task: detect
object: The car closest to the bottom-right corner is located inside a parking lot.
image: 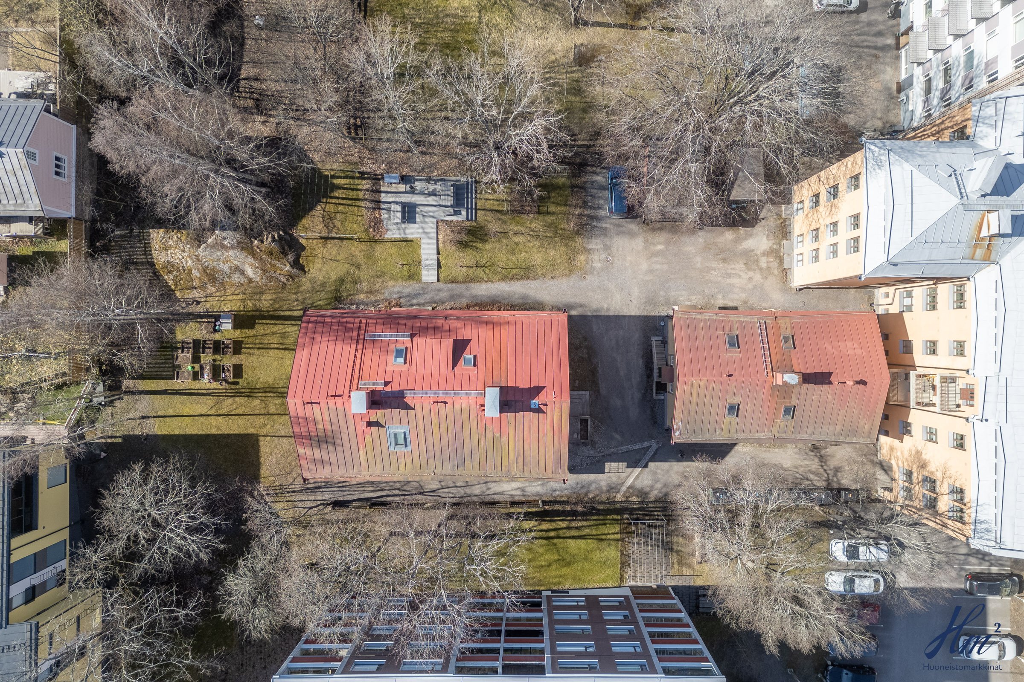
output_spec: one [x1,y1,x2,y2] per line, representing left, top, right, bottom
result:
[955,633,1013,661]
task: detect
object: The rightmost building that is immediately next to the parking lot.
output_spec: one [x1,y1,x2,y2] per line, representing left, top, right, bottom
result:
[791,88,1024,555]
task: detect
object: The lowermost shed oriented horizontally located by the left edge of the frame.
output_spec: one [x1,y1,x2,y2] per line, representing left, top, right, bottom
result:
[12,221,55,235]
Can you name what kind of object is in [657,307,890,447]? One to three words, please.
house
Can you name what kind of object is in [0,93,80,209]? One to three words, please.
house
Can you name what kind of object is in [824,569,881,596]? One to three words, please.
car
